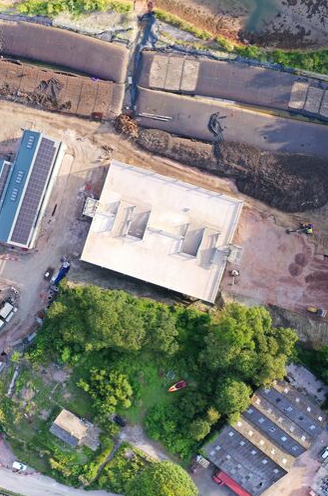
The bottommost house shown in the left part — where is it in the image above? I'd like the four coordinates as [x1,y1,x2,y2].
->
[47,406,101,450]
